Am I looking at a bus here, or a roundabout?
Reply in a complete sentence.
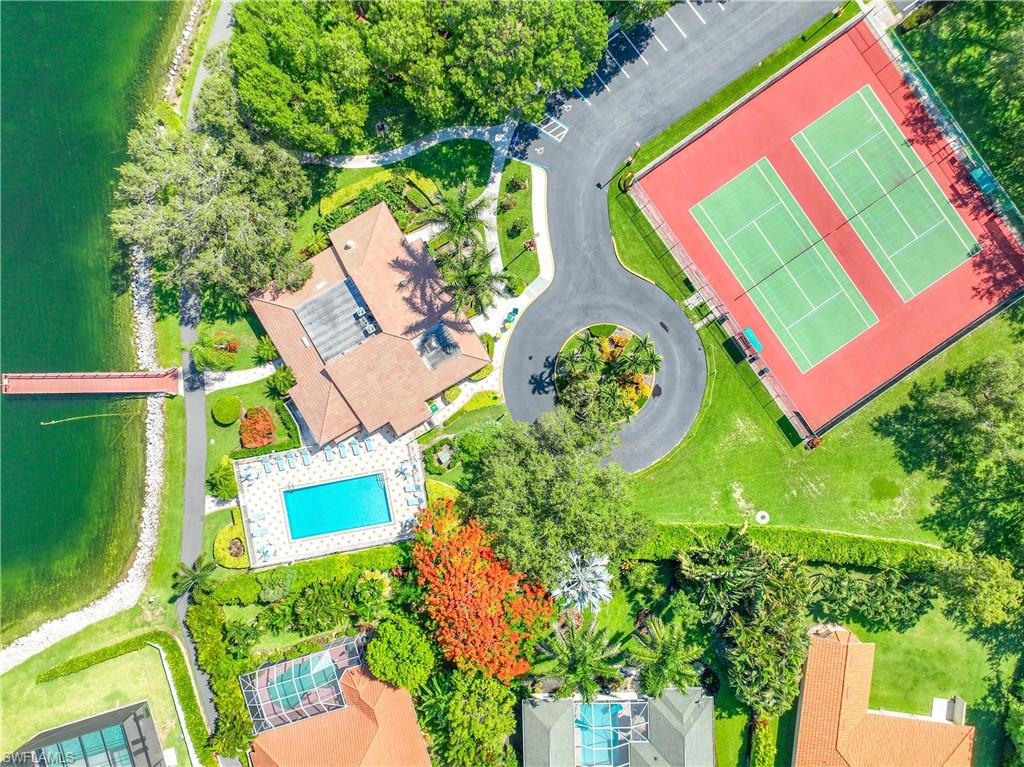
Looking from above, you can make out a roundabout.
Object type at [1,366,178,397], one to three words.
pier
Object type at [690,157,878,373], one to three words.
tennis court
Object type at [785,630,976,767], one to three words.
house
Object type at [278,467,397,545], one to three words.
swimming pool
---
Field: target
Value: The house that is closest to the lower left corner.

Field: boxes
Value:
[239,634,432,767]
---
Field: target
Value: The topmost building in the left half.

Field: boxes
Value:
[248,203,491,446]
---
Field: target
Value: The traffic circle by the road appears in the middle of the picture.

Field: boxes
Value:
[554,324,654,419]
